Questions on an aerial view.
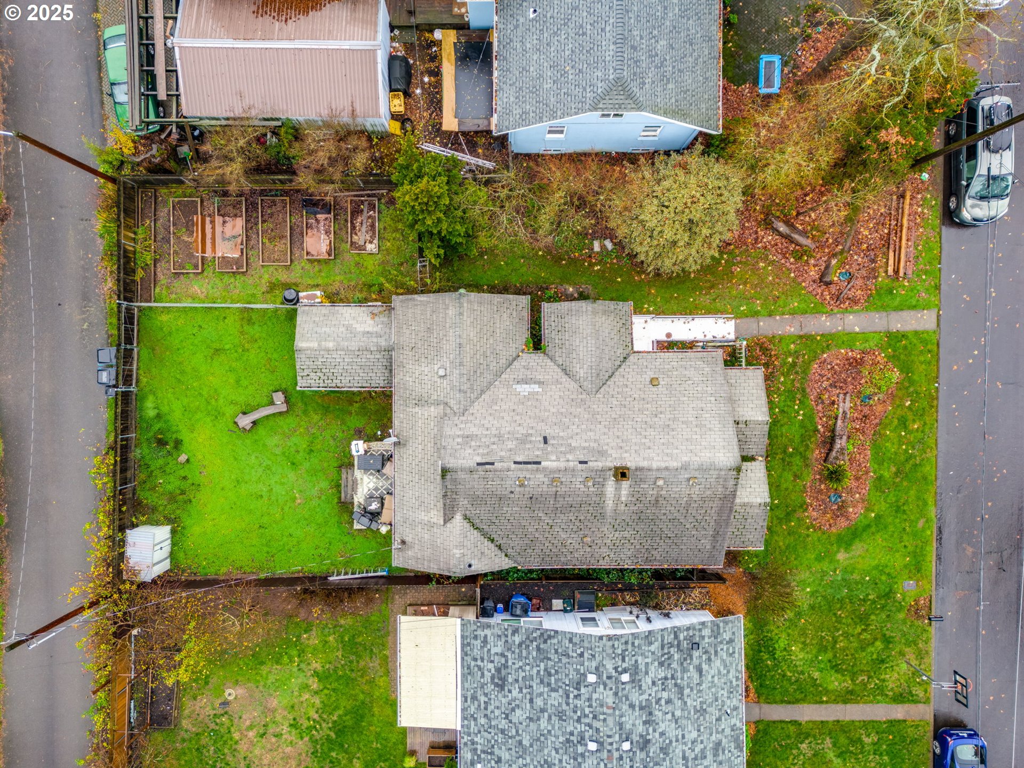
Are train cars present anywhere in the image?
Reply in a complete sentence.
No, the scene contains no train car.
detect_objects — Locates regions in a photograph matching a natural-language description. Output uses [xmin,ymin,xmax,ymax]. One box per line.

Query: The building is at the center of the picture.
[292,287,775,577]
